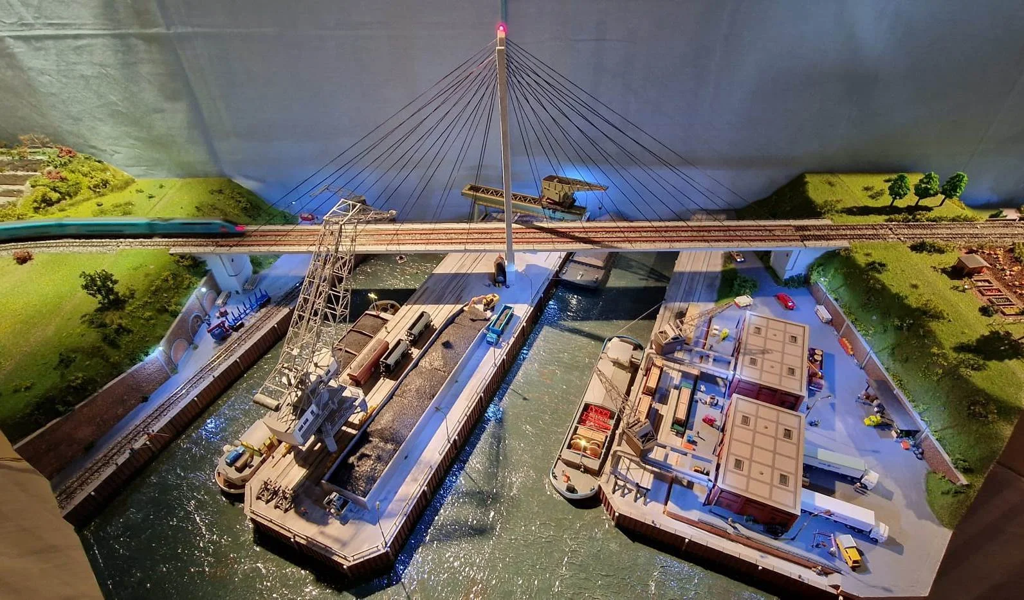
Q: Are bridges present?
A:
Yes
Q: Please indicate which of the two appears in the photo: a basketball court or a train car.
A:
train car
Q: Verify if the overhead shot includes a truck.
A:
Yes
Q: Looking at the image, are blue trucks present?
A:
Yes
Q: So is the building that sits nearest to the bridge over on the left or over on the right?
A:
right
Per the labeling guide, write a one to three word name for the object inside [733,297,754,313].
vehicle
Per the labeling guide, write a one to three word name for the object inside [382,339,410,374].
rail car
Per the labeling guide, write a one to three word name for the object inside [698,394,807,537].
building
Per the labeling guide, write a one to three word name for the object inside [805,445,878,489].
truck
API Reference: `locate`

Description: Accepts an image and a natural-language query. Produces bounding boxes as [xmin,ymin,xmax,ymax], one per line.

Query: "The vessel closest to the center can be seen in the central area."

[560,252,612,299]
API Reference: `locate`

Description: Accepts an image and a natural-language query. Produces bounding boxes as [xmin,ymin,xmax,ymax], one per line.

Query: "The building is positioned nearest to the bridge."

[718,309,811,412]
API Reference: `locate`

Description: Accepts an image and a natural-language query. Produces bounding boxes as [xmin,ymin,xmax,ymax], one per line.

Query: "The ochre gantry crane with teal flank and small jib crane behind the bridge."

[472,177,616,223]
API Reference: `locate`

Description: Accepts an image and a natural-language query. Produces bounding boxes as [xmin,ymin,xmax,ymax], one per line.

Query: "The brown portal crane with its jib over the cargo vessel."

[592,366,721,490]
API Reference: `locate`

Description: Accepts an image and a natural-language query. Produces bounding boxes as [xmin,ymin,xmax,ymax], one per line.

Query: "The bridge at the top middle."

[172,27,848,287]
